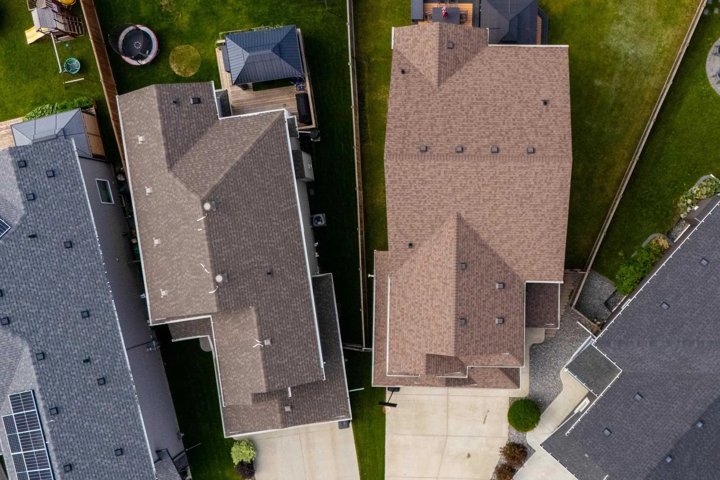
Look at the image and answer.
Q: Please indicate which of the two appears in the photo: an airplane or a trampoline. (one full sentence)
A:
The one in the frame is a trampoline.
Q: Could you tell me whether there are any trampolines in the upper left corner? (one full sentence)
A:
Yes, you'll find a trampoline in the upper left corner.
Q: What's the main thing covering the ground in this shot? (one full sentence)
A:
Most of the picture is covered by buildings.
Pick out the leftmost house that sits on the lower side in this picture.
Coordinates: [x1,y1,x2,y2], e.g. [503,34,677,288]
[0,137,202,480]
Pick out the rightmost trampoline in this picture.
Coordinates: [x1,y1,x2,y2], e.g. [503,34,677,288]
[107,18,162,67]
